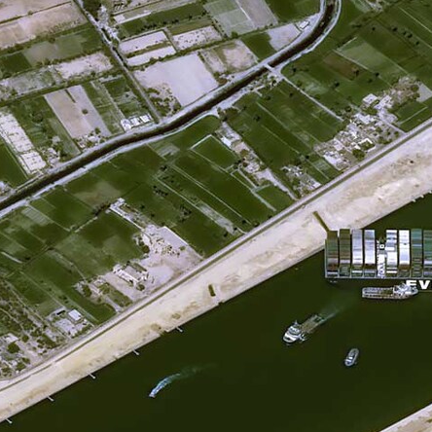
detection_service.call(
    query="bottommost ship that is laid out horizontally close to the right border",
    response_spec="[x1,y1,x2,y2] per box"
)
[362,284,418,299]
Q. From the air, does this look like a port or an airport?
port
